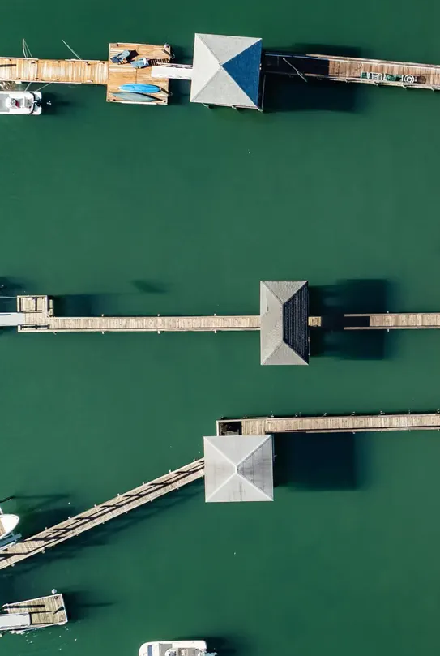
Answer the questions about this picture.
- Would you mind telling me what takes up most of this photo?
water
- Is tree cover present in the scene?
No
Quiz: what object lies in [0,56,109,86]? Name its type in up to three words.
pier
